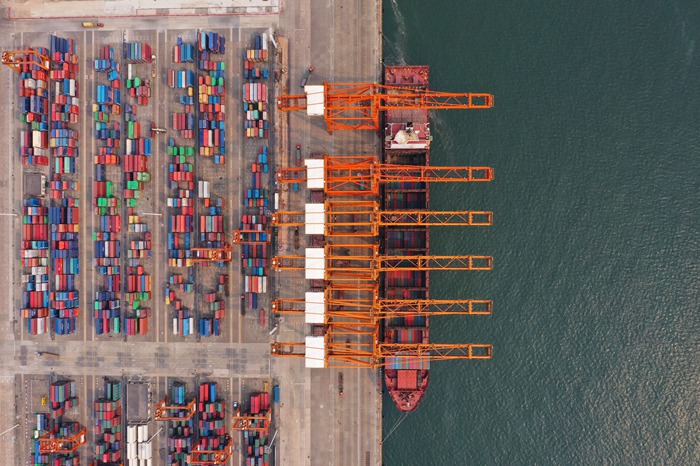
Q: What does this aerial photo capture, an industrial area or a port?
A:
port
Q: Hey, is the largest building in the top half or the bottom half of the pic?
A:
bottom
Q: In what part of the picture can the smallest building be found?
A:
left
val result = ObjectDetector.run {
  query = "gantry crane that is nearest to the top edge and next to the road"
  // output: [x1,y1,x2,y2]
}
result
[1,47,53,74]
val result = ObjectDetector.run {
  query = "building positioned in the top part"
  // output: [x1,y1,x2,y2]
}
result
[25,174,46,199]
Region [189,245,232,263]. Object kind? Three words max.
container crane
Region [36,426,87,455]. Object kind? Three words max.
container crane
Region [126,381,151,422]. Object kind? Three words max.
building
